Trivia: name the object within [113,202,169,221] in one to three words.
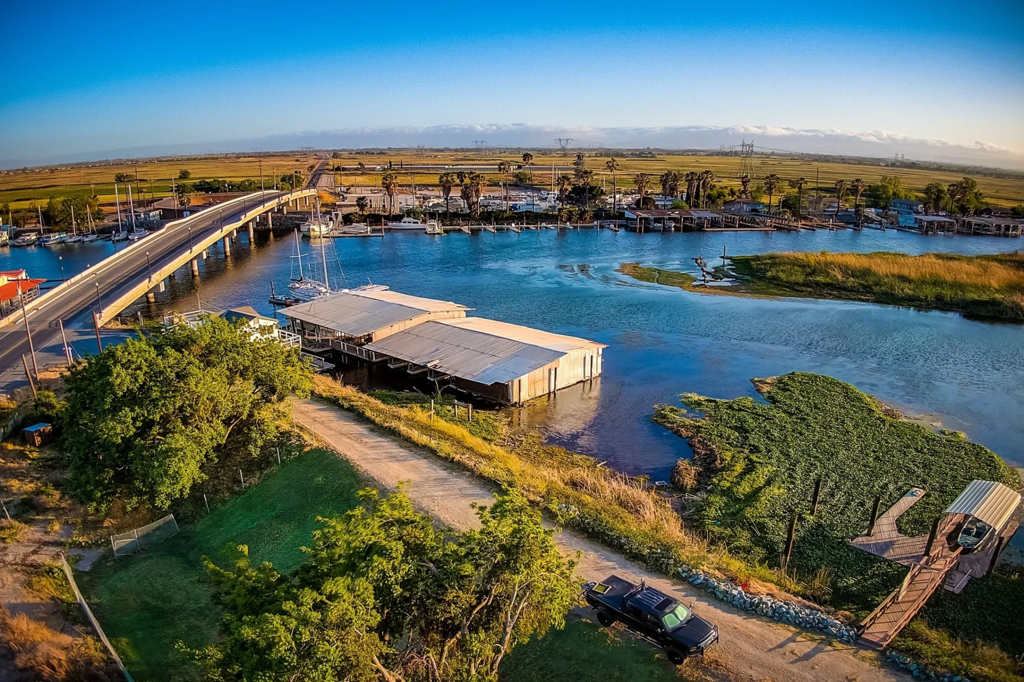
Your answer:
building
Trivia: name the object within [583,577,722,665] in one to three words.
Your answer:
truck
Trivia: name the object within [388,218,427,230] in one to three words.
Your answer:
boat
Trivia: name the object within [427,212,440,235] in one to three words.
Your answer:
boat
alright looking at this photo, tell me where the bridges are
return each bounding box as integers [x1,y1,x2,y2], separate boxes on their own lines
[0,188,316,380]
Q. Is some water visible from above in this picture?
Yes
